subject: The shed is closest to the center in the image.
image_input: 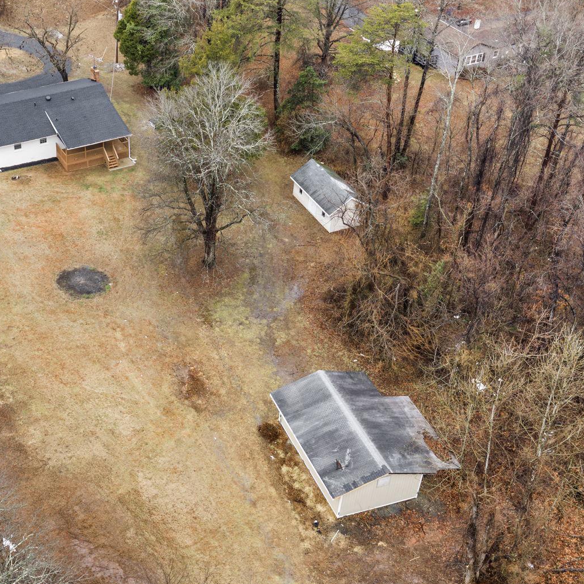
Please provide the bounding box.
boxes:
[290,160,370,232]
